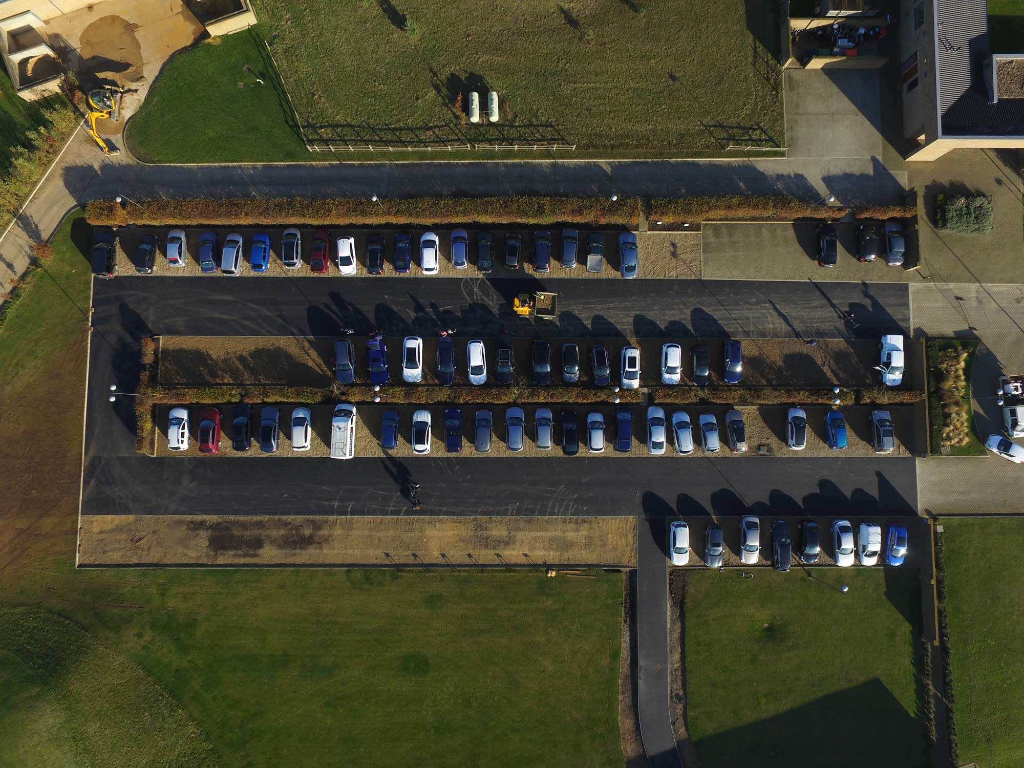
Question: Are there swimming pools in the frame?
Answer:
No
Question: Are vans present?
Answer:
Yes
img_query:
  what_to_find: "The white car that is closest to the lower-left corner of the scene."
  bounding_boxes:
[166,406,194,452]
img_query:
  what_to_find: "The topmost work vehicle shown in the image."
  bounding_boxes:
[84,85,124,160]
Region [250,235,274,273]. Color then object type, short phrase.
blue car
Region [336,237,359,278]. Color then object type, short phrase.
white car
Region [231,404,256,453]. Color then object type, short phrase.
black car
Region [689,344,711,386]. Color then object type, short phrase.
black car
